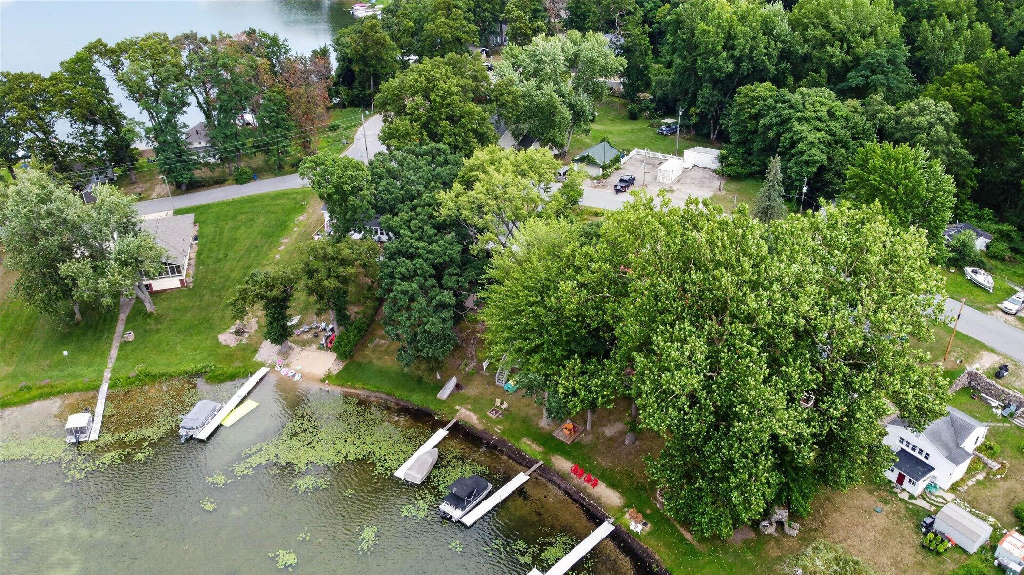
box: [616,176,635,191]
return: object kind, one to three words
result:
vehicle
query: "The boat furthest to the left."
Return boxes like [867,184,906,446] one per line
[64,406,91,447]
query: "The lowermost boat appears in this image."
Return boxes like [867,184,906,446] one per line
[446,470,498,520]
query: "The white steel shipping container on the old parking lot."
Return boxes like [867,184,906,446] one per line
[657,158,683,183]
